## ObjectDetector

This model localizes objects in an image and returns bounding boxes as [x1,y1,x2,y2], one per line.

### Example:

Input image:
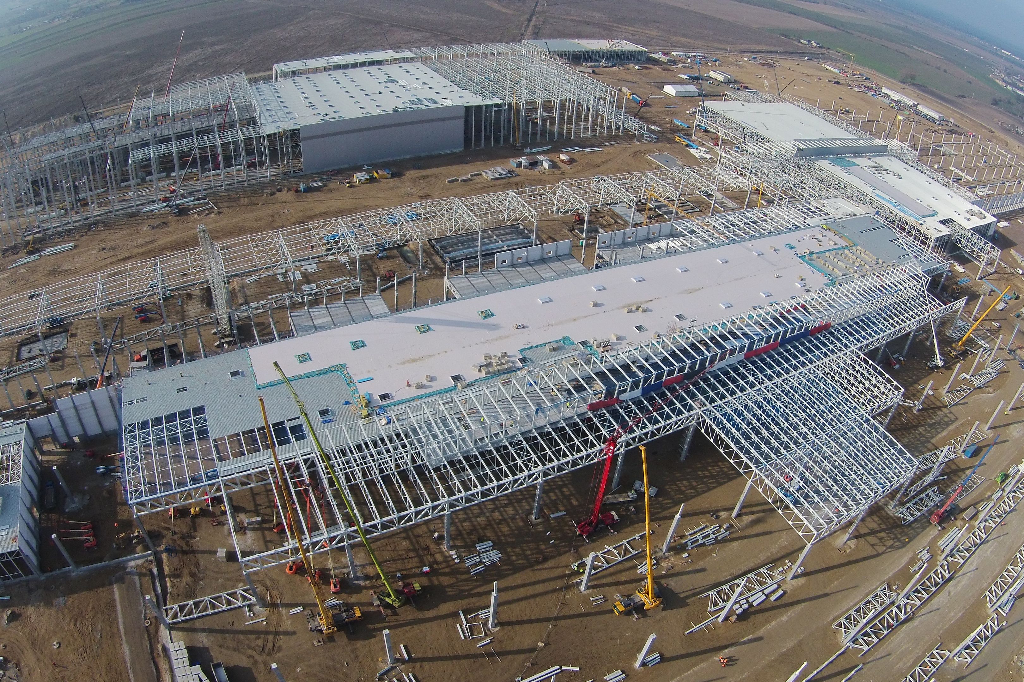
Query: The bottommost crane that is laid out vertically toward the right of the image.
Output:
[595,439,677,629]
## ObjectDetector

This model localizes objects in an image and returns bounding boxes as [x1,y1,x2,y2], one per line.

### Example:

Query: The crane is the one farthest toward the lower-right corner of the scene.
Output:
[921,450,991,536]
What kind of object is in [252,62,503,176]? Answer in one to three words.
building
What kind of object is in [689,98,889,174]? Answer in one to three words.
building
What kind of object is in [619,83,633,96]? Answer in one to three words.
vehicle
